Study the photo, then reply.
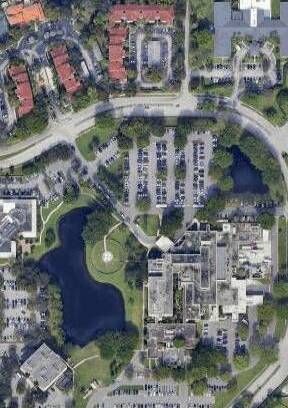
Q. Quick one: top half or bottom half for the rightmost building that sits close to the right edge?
top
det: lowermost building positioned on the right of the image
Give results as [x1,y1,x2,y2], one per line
[145,223,271,362]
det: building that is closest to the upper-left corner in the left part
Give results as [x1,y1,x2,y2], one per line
[6,3,43,24]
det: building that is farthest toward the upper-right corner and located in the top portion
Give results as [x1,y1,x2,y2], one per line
[213,0,288,57]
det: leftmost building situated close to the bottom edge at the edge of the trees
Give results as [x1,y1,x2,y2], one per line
[19,343,72,391]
